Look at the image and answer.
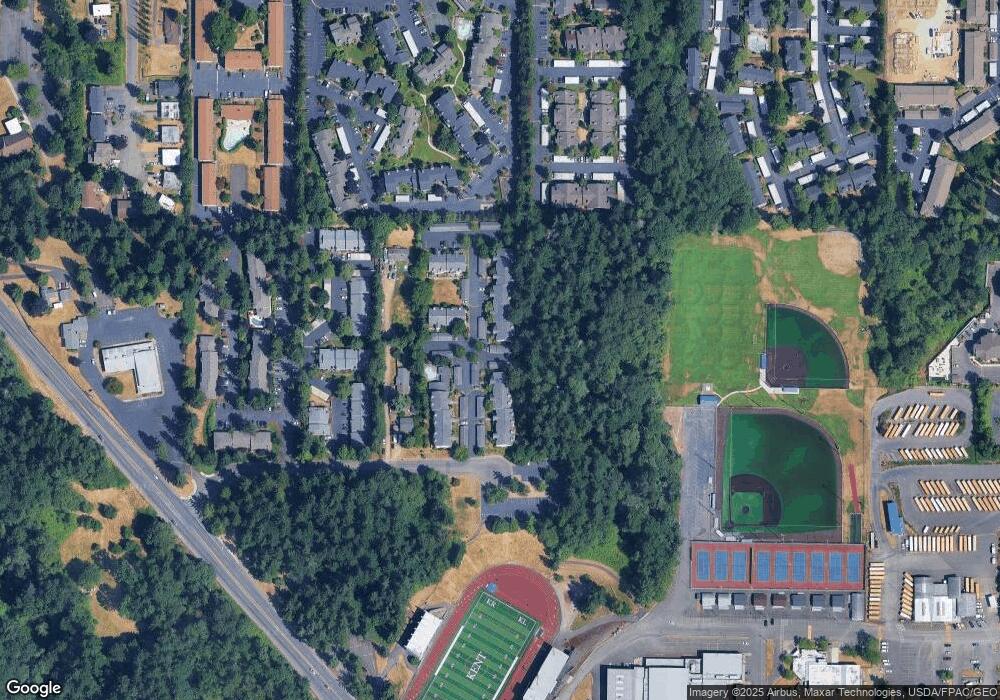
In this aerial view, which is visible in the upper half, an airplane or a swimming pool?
swimming pool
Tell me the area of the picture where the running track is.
bottom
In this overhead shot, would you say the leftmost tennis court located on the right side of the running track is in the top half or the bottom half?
bottom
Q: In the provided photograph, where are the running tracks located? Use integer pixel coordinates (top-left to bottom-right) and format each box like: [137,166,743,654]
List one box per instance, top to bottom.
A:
[403,563,558,700]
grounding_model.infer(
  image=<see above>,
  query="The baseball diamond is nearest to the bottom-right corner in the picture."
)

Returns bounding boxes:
[718,407,843,543]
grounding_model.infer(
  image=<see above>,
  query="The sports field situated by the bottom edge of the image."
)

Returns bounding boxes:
[416,587,542,700]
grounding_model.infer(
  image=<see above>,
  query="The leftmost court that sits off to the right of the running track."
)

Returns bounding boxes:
[691,543,750,589]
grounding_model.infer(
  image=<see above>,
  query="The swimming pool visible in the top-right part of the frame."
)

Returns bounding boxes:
[747,32,769,53]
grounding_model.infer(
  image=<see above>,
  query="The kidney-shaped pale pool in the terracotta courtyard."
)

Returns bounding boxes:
[223,121,251,150]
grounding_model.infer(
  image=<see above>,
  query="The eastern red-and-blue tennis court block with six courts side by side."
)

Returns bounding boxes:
[752,544,864,590]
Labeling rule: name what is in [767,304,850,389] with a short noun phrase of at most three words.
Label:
baseball field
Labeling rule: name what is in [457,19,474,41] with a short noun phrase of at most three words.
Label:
swimming pool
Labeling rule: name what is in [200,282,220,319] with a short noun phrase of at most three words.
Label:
building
